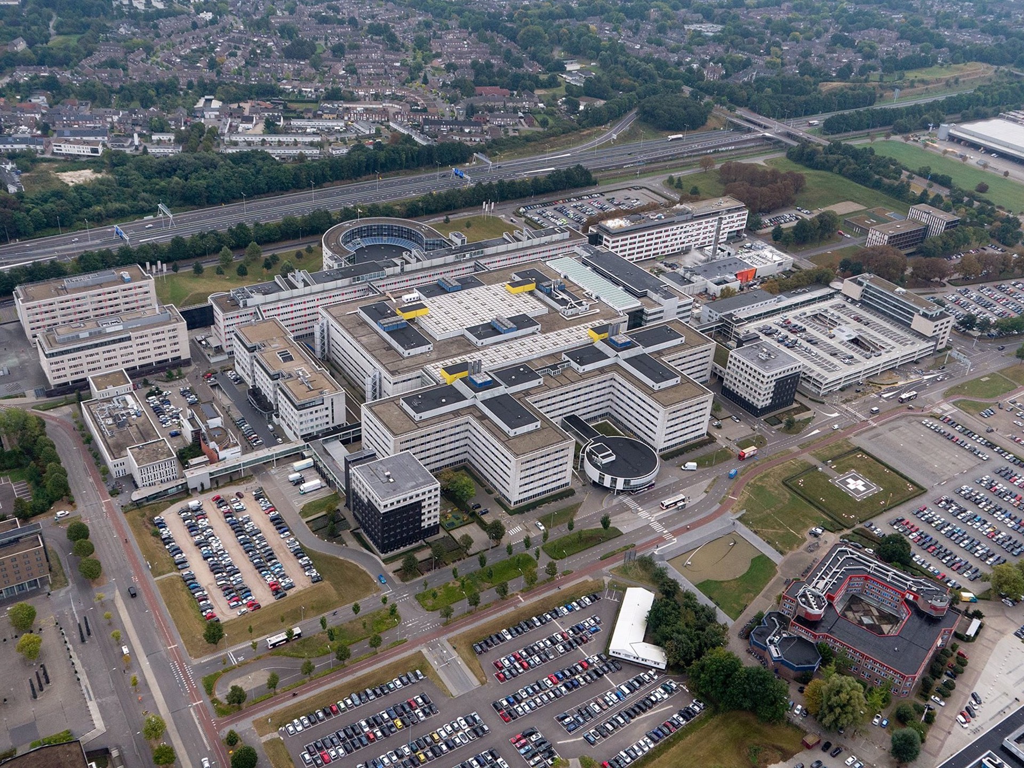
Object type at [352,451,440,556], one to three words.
building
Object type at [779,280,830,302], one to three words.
shed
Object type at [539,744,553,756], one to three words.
vehicle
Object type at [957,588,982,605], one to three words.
vehicle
